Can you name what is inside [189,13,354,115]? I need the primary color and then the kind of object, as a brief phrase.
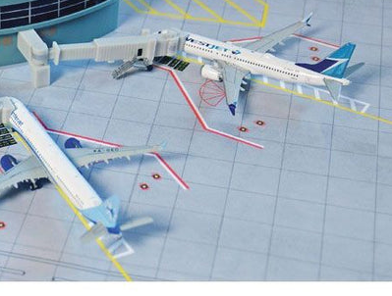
white airplane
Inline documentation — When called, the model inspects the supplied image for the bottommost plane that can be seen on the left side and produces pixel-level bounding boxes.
[0,102,162,241]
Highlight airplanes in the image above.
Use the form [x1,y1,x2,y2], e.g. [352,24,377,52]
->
[0,102,162,241]
[189,13,354,115]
